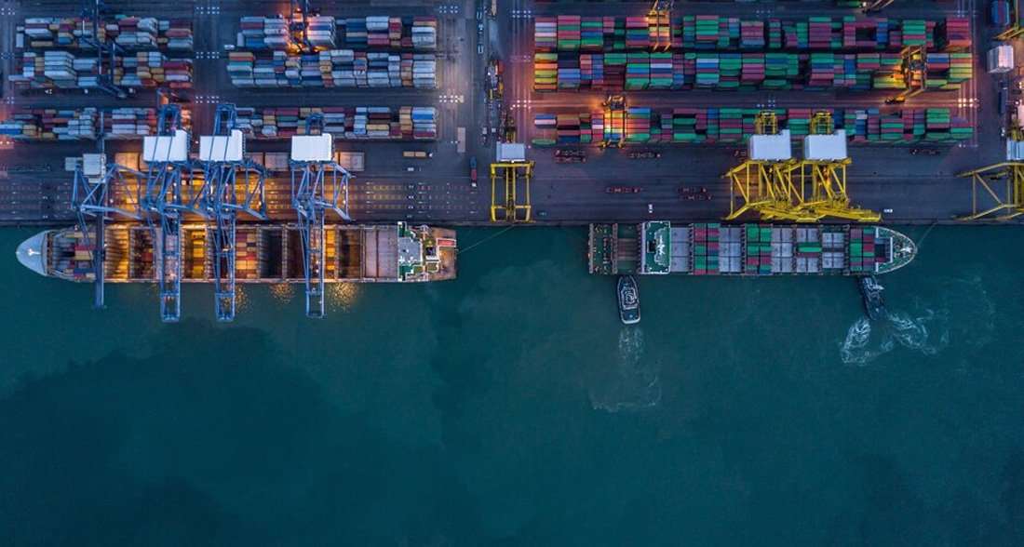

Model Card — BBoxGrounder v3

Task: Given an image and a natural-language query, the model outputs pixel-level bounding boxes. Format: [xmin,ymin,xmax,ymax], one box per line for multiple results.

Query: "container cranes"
[648,0,673,55]
[80,0,119,57]
[718,106,825,225]
[489,108,537,221]
[605,97,627,153]
[985,0,1024,40]
[195,100,277,323]
[951,141,1024,221]
[286,0,318,54]
[767,106,890,225]
[886,44,924,100]
[134,100,227,323]
[59,116,165,310]
[292,100,358,323]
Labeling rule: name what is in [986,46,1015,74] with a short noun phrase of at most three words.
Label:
shed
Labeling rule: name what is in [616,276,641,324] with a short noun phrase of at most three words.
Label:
boat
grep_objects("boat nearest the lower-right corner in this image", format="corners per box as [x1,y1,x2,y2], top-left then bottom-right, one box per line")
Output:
[859,277,884,320]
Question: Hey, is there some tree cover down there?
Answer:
No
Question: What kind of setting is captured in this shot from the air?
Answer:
port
